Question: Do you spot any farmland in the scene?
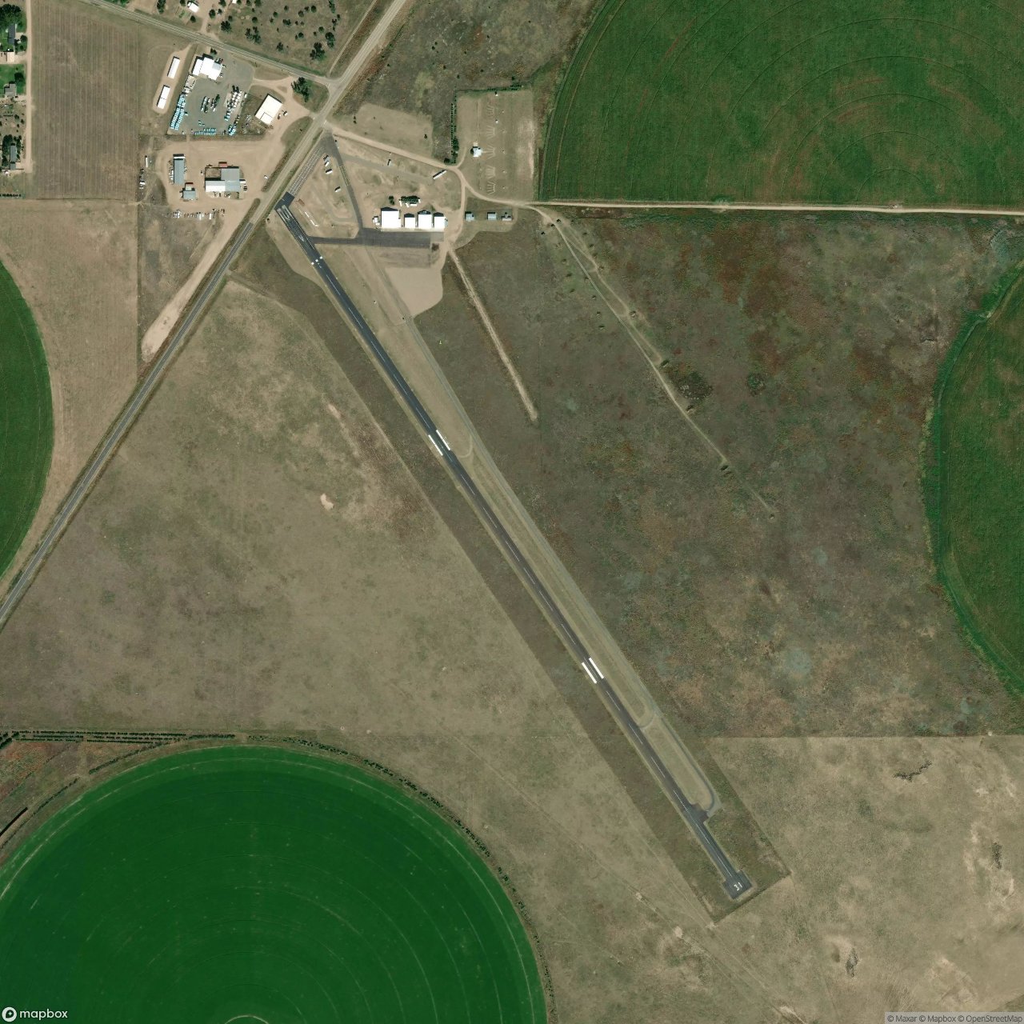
Yes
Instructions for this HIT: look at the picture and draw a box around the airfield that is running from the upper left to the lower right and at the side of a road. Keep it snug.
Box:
[275,129,752,899]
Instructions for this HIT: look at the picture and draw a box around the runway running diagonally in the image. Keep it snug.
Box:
[275,192,752,899]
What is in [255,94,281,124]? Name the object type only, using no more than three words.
building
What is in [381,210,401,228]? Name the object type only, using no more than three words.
hangar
